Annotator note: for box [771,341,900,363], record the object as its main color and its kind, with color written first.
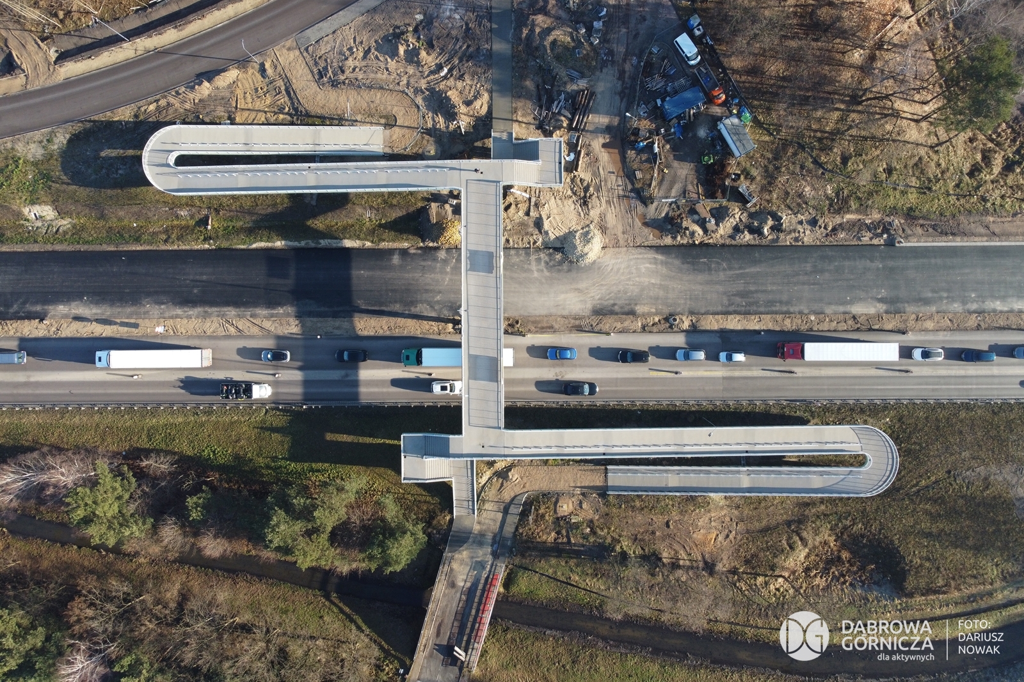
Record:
white truck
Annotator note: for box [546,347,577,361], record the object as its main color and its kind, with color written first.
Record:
blue car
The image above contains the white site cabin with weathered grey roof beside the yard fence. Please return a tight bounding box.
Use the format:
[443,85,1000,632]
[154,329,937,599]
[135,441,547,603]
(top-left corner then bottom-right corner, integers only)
[719,107,762,158]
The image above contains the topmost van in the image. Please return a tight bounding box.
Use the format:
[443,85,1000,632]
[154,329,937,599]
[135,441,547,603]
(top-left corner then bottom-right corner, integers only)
[674,25,703,65]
